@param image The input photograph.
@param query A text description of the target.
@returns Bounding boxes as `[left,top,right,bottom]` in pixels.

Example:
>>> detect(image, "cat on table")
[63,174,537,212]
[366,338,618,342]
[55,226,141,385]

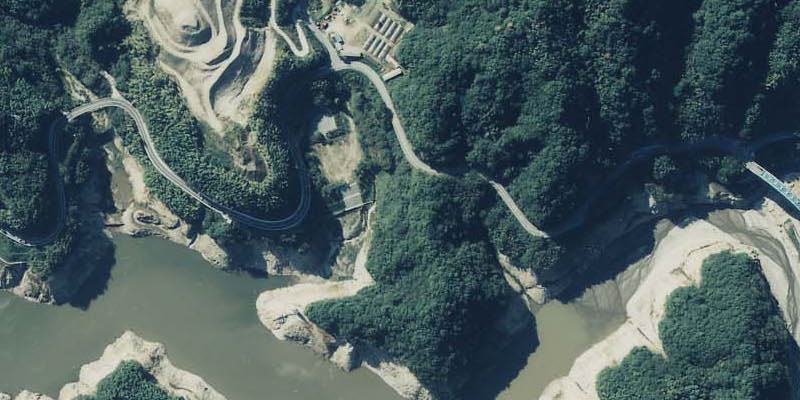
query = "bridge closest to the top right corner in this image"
[747,162,800,214]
